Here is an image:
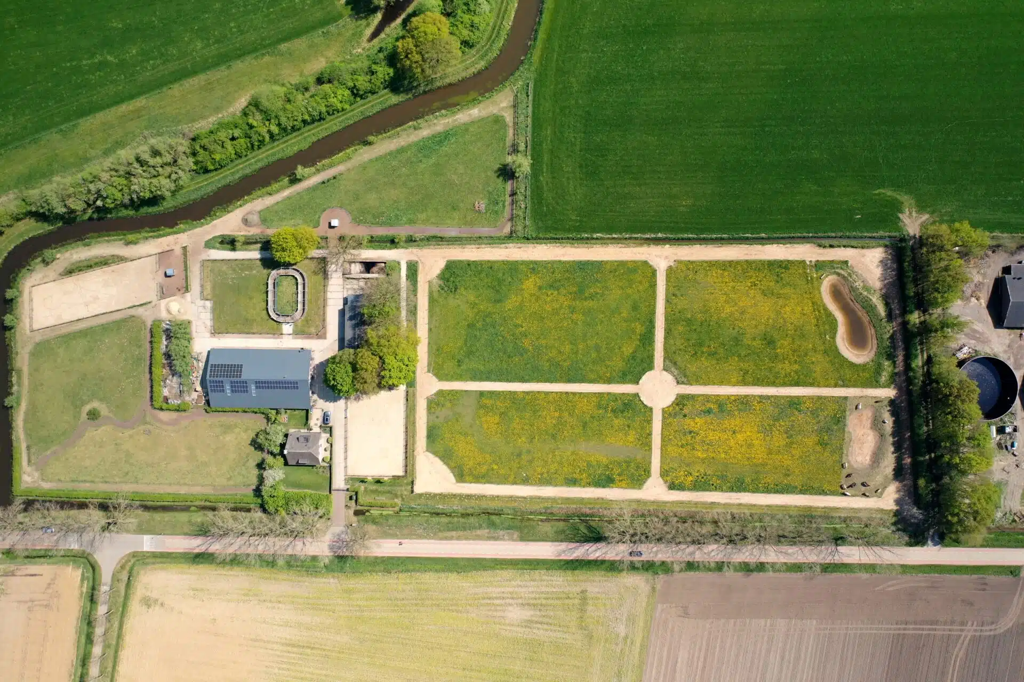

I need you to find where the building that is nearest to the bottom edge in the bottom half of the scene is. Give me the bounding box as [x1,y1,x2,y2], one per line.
[283,432,323,465]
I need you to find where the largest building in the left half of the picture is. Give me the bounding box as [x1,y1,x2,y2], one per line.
[207,348,313,409]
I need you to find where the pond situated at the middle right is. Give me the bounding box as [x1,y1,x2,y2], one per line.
[826,279,874,355]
